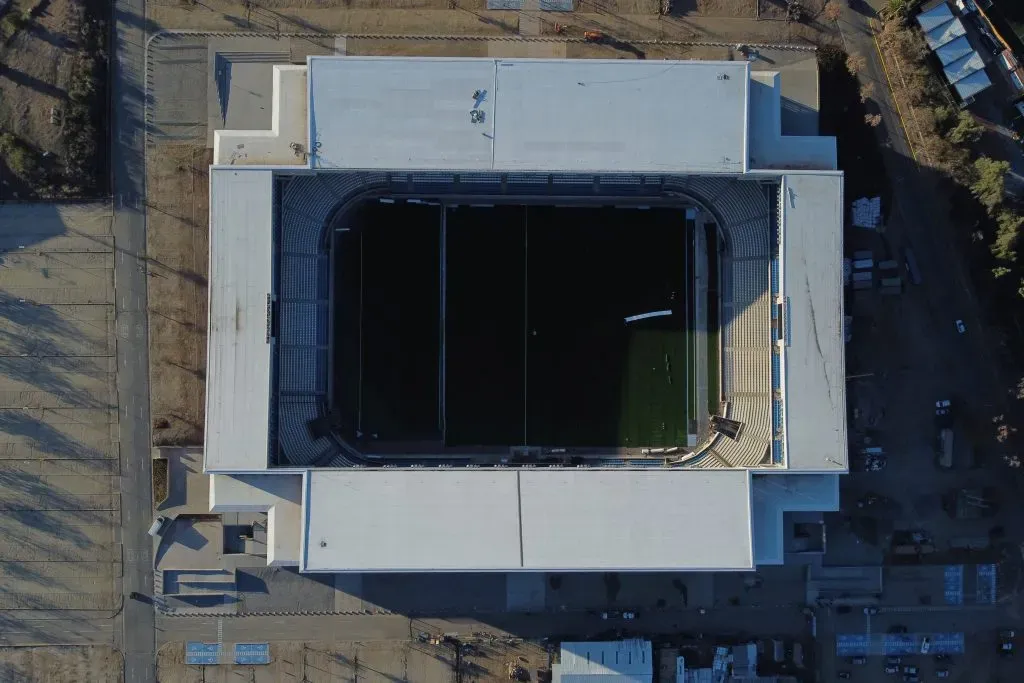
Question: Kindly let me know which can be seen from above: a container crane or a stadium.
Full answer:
The one in the frame is a stadium.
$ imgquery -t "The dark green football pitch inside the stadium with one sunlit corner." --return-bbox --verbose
[330,196,720,455]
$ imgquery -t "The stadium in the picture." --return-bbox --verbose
[204,55,848,572]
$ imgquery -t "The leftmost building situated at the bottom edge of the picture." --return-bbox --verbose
[551,637,653,683]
